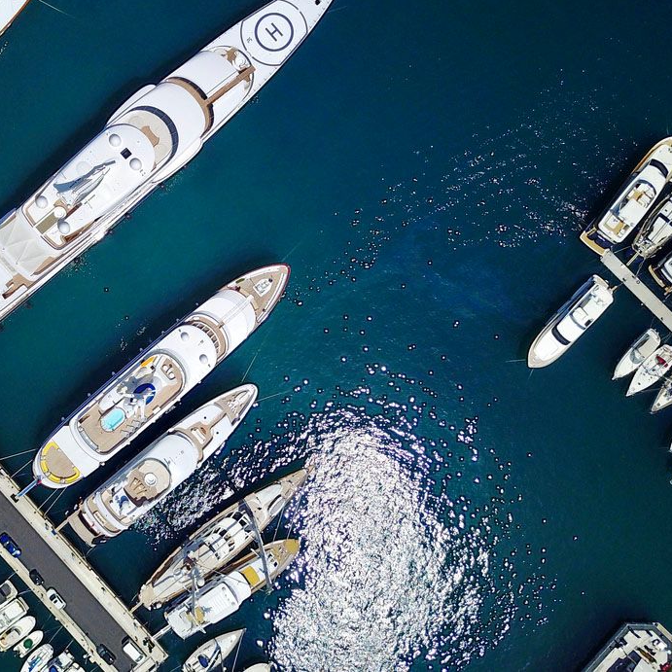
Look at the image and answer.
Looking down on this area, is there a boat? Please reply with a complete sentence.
Yes, the image includes a boat.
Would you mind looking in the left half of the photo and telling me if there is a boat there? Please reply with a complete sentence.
Yes, looking in the left half of the photo, one can make out a boat.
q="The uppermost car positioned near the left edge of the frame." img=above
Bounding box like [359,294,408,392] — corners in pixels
[0,534,21,556]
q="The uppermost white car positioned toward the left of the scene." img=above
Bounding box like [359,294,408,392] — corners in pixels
[47,588,67,609]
